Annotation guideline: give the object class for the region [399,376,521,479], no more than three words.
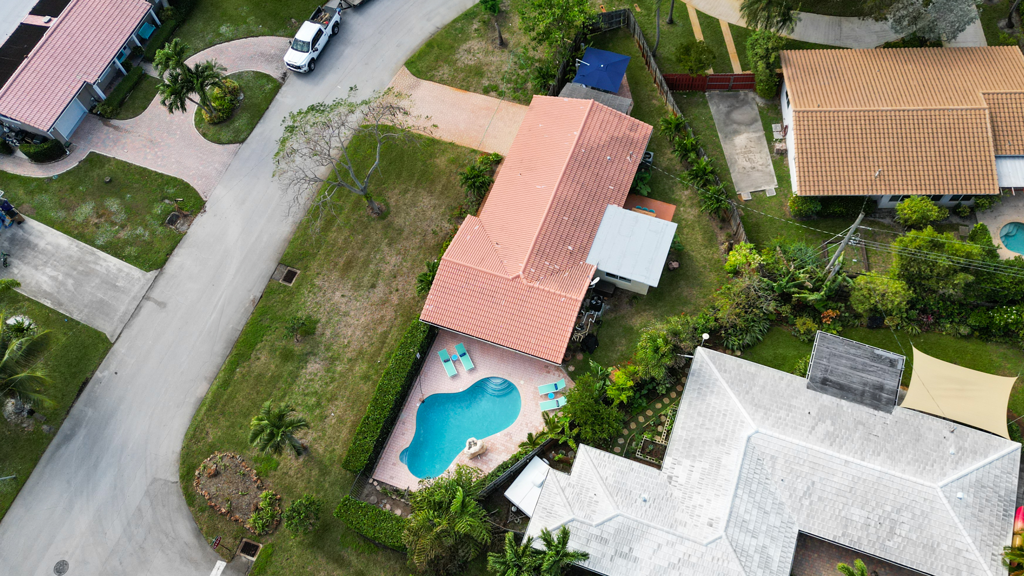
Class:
swimming pool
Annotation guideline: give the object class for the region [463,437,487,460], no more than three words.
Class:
fountain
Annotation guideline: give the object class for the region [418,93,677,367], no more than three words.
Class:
house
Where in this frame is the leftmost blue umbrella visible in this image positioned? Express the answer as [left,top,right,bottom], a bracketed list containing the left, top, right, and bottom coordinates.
[572,47,630,93]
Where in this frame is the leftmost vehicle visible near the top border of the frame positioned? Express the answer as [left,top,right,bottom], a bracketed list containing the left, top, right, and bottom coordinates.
[281,6,342,78]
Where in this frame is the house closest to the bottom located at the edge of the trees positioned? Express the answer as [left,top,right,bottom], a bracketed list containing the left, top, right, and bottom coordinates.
[519,331,1020,576]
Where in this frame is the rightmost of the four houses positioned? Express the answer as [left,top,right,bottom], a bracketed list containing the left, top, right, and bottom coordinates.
[780,45,1024,207]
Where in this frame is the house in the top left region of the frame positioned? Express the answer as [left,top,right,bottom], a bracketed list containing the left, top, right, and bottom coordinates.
[0,0,161,142]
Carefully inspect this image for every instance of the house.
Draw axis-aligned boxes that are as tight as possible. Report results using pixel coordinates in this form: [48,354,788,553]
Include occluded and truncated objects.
[418,93,677,367]
[780,45,1024,207]
[519,331,1020,576]
[0,0,161,142]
